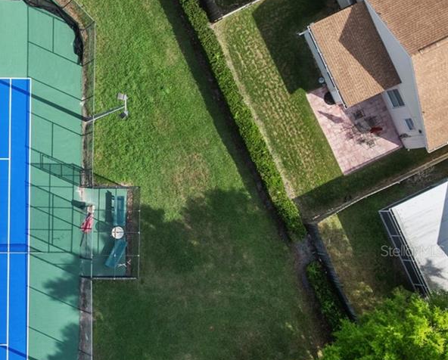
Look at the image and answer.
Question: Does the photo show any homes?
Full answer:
Yes, a home can be made out from above.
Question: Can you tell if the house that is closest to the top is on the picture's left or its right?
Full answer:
The house that is closest to the top sits on the right side.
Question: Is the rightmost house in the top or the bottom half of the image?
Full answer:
The rightmost house is in the bottom half of the image.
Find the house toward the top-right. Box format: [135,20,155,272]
[285,0,448,153]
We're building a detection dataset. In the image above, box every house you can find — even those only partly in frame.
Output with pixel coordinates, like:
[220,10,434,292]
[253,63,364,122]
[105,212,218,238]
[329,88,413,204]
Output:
[285,0,448,153]
[379,178,448,322]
